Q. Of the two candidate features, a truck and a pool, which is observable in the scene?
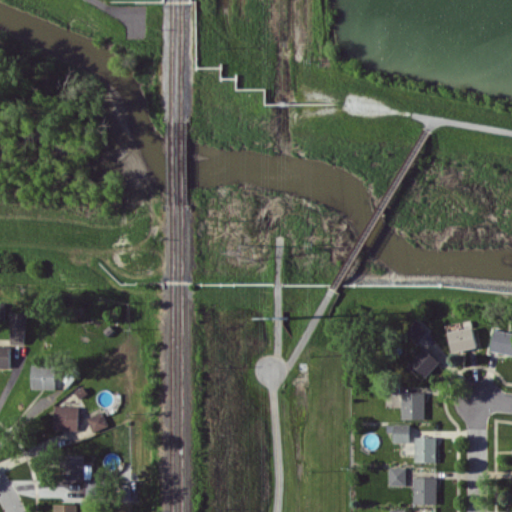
pool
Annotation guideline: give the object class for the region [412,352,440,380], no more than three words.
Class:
building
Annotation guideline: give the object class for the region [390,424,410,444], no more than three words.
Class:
building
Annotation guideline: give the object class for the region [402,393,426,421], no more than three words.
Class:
house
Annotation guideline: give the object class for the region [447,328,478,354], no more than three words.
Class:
house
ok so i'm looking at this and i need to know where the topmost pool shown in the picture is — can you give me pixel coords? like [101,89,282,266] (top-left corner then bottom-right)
[96,390,122,415]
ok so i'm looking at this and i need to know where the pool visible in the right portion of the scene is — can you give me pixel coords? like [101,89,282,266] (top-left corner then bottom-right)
[360,432,382,455]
